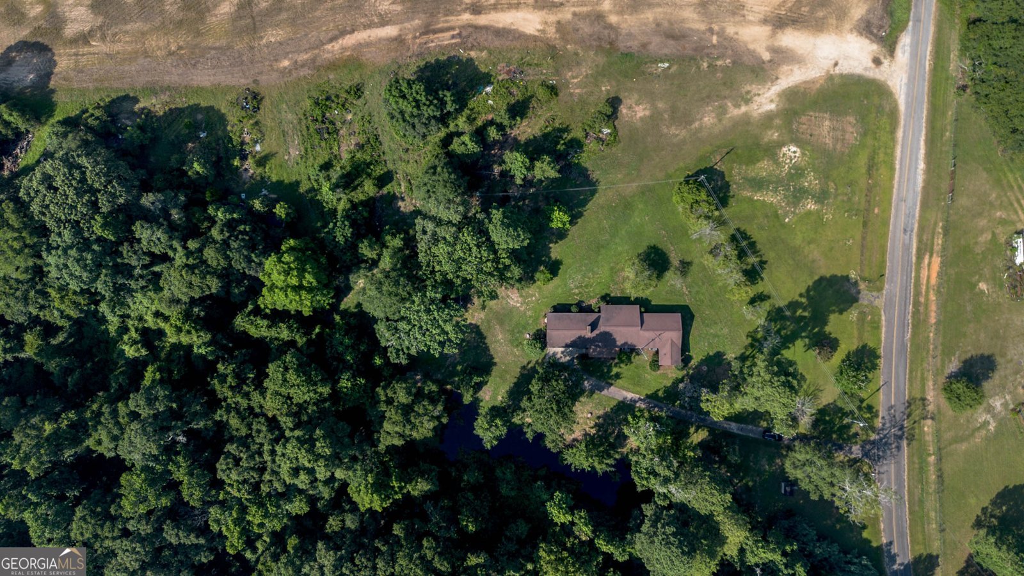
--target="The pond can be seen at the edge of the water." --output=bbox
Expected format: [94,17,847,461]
[441,391,636,510]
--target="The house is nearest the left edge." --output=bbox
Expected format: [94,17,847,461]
[547,305,683,365]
